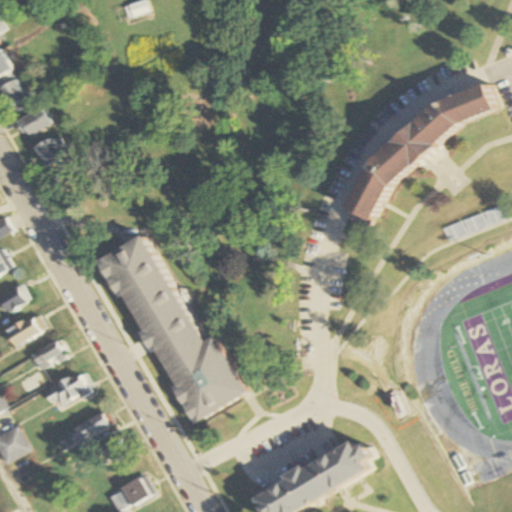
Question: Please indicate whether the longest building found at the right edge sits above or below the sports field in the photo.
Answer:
above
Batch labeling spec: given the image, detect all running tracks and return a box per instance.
[414,253,512,481]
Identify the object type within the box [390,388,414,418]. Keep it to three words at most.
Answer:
building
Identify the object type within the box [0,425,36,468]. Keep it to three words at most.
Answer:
house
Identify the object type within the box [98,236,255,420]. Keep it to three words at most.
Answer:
building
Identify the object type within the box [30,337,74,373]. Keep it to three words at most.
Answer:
house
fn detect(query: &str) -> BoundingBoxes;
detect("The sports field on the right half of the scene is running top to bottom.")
[440,278,512,440]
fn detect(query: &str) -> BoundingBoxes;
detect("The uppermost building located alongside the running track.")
[344,83,498,224]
